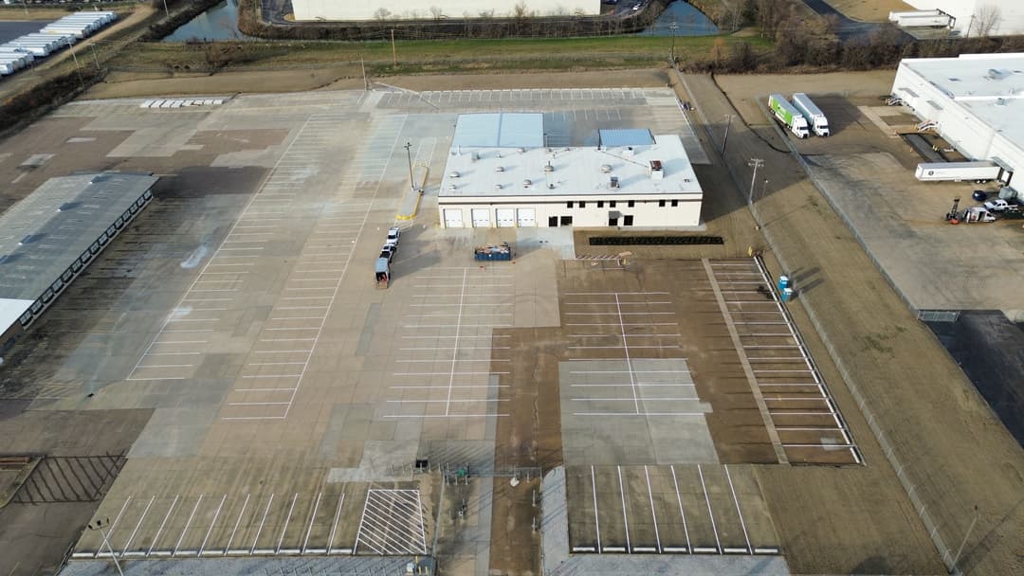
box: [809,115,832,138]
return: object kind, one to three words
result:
truck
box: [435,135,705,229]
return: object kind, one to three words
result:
building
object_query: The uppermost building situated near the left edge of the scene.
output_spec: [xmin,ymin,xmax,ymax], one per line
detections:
[0,171,161,329]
